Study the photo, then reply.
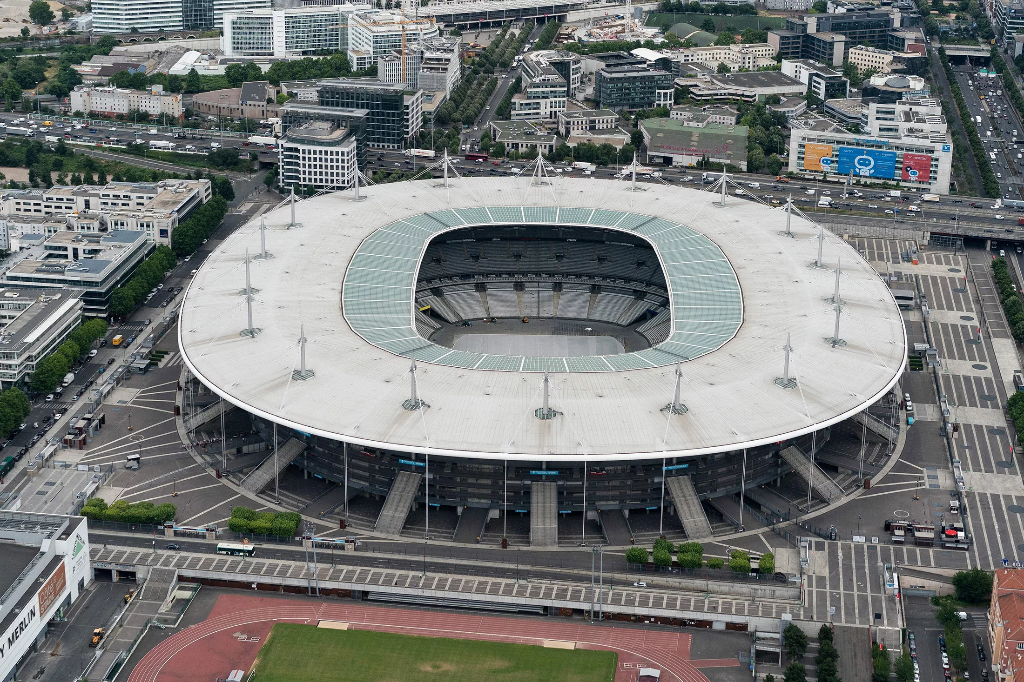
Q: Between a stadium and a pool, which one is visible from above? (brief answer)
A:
stadium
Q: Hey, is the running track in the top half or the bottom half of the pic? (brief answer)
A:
bottom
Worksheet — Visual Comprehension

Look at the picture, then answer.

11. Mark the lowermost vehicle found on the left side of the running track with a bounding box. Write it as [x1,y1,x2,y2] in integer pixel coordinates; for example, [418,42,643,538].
[83,625,107,649]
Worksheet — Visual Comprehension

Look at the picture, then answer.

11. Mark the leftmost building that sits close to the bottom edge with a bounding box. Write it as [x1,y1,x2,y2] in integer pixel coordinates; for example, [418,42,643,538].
[0,508,90,682]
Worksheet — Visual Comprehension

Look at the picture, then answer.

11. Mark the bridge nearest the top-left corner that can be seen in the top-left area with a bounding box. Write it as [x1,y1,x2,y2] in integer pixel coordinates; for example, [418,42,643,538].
[90,28,200,43]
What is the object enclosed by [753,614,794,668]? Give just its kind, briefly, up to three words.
building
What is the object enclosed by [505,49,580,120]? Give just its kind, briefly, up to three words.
building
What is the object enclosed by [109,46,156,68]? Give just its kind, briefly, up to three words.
shed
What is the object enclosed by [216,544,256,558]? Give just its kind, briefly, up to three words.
vehicle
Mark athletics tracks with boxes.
[132,606,701,682]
